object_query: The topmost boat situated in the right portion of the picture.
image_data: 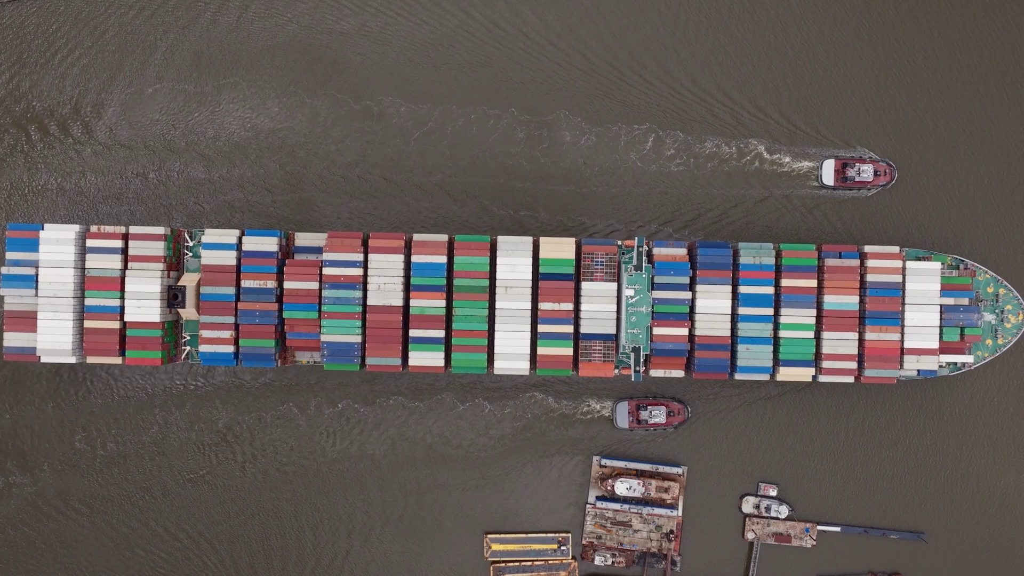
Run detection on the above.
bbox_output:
[817,155,898,191]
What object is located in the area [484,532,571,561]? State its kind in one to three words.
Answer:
ship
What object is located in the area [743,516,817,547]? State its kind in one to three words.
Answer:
ship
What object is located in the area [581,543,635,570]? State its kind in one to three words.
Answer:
boat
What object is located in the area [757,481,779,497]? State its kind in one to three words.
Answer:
boat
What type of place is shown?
port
